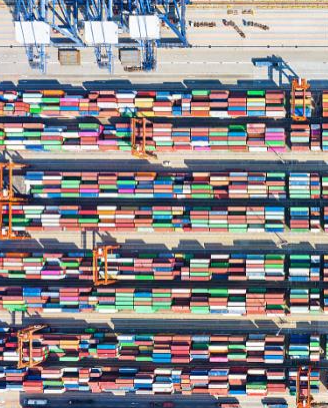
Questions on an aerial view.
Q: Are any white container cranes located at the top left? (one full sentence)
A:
Yes, a white container crane is visible at the top left.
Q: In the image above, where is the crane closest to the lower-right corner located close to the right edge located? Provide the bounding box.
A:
[295,360,315,408]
